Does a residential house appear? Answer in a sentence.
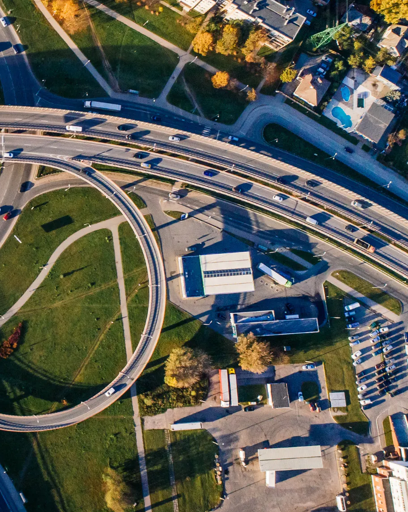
Yes, there is a residential house in the image.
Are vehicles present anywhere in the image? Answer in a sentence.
Yes, the image includes a vehicle.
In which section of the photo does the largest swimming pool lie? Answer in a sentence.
The largest swimming pool sits in the top right section of the image.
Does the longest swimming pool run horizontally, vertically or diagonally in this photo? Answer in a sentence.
What the image shows is the longest swimming pool lying diagonally.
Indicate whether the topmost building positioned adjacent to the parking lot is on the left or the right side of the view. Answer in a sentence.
You can find the topmost building positioned adjacent to the parking lot on the right side of the picture.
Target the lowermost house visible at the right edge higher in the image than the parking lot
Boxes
[349,101,395,145]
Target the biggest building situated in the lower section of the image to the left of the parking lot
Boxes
[226,310,320,336]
